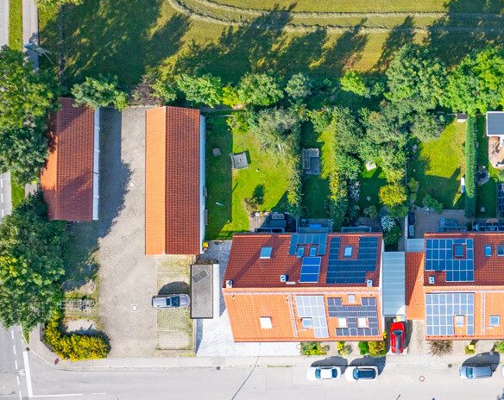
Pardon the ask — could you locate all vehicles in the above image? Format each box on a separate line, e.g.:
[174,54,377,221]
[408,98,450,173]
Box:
[307,365,343,382]
[459,364,493,380]
[389,321,405,354]
[346,365,380,382]
[154,294,191,310]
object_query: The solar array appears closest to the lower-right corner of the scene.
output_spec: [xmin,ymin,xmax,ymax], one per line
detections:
[426,294,475,336]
